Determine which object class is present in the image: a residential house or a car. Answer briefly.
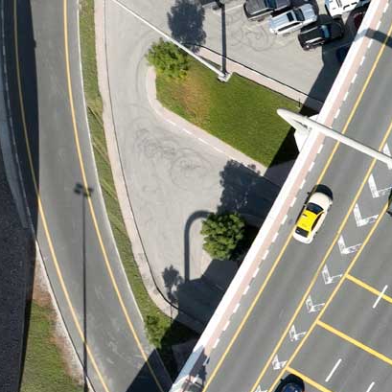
car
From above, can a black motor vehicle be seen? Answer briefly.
Yes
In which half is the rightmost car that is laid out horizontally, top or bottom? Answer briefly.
top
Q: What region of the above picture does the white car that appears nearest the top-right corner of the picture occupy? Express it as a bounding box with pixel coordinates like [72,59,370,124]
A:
[324,0,372,21]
